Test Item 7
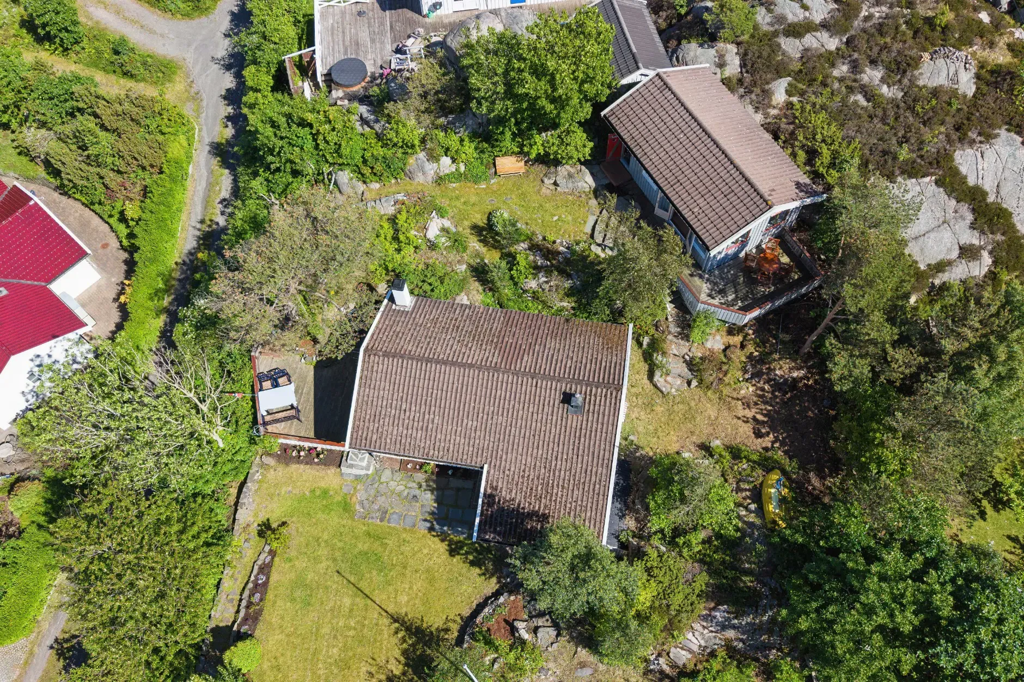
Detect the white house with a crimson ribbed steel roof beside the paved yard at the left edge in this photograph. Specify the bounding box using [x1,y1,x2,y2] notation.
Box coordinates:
[0,181,113,432]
